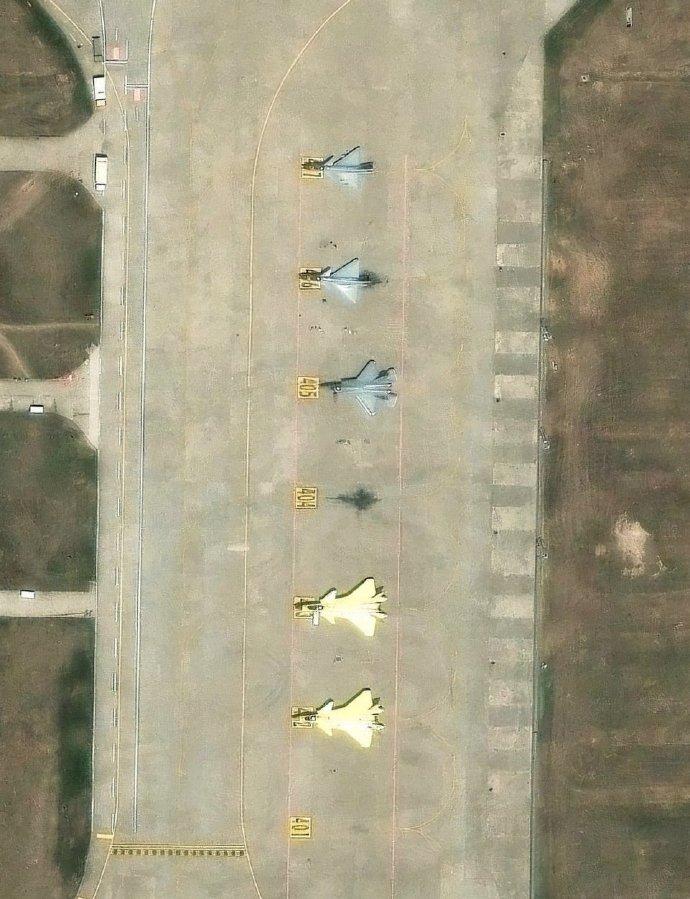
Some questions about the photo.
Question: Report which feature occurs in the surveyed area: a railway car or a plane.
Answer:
plane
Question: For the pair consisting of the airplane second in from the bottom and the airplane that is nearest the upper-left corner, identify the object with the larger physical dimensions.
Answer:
the airplane second in from the bottom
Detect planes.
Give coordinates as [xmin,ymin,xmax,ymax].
[292,689,385,749]
[322,361,398,416]
[297,579,387,638]
[299,258,372,303]
[302,148,375,192]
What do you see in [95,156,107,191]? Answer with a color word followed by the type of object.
white vehicle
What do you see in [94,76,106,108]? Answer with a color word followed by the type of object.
white vehicle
